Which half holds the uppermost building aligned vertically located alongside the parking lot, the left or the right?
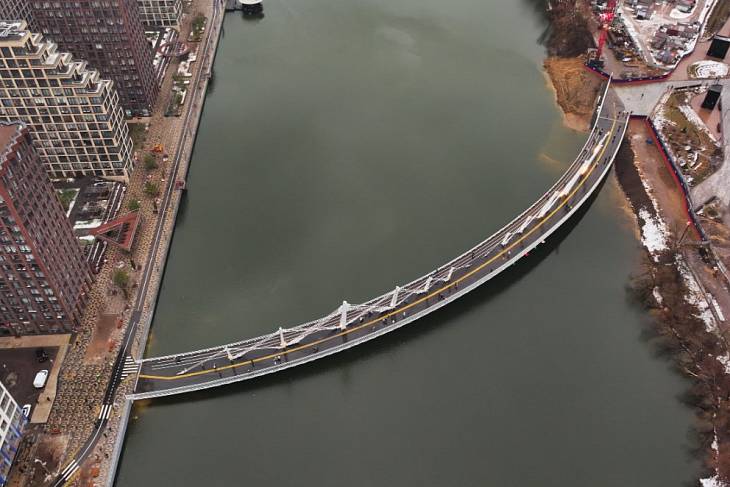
left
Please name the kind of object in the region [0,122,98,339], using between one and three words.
building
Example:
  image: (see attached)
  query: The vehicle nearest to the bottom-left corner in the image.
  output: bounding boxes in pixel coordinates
[19,402,34,420]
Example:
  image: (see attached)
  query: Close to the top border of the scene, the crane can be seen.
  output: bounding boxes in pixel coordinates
[583,0,622,63]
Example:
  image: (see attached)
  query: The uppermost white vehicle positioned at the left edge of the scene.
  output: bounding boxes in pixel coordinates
[31,369,47,386]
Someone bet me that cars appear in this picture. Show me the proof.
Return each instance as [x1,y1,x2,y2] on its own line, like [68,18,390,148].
[35,348,46,360]
[31,369,47,386]
[19,402,34,420]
